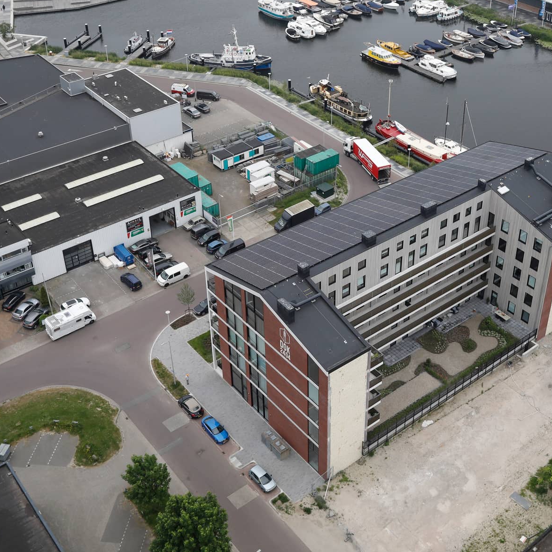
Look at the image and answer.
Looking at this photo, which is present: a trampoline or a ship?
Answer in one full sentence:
The one in the frame is a ship.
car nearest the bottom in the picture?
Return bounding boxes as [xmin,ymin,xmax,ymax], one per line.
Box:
[247,463,277,496]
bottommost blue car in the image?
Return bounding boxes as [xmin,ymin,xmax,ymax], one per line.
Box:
[200,413,230,445]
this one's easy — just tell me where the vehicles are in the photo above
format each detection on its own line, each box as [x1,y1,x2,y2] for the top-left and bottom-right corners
[143,251,174,268]
[196,87,220,101]
[189,222,217,238]
[117,274,144,290]
[19,308,52,330]
[314,202,335,216]
[200,413,230,445]
[150,256,180,277]
[193,102,213,113]
[135,244,167,260]
[215,234,247,257]
[277,202,314,230]
[203,240,225,255]
[175,393,208,420]
[58,296,93,312]
[247,463,277,496]
[8,298,42,321]
[195,229,223,247]
[171,82,195,96]
[47,308,97,341]
[182,107,202,117]
[0,290,29,312]
[346,140,392,186]
[157,258,191,284]
[190,296,217,316]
